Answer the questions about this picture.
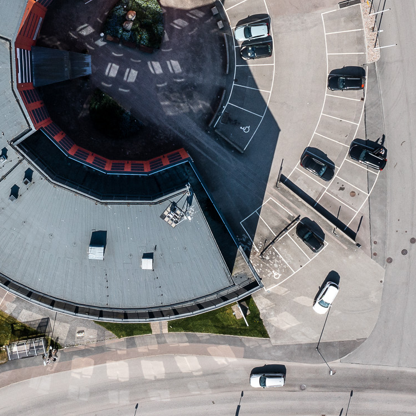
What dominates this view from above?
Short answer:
paved ground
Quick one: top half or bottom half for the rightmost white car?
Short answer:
bottom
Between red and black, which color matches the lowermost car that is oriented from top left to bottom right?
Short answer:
black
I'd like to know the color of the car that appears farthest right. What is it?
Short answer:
black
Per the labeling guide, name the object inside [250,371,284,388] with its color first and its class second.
white car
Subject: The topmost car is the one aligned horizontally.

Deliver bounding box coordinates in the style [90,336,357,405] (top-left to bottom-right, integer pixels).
[234,23,271,41]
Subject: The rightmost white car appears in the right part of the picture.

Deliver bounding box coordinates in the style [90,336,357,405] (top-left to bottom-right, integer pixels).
[315,281,338,315]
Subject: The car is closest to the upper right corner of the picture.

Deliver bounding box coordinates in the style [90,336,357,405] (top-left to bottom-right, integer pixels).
[328,75,365,91]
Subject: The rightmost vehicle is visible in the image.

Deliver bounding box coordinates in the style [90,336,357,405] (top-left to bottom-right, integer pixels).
[348,146,387,173]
